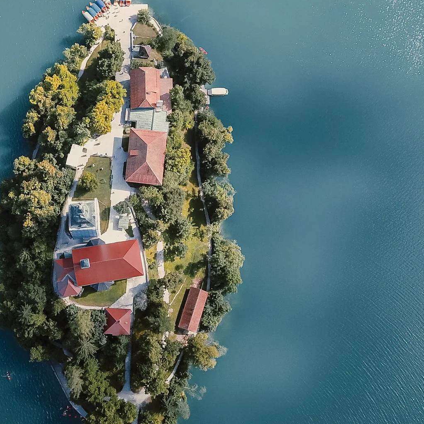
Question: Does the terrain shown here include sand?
No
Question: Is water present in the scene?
Yes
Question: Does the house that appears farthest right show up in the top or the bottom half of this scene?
bottom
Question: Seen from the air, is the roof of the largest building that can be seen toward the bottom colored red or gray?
red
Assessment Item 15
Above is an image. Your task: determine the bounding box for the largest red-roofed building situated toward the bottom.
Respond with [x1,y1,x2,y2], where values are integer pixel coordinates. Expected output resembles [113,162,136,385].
[54,238,143,297]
